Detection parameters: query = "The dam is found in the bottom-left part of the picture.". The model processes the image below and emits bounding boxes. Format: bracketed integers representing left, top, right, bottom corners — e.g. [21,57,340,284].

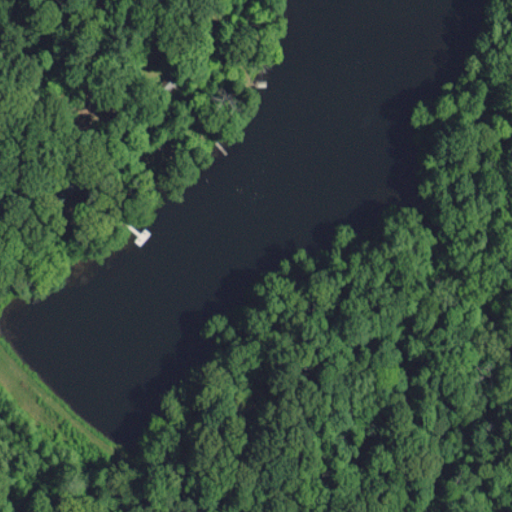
[0,344,118,496]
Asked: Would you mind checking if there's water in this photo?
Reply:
Yes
